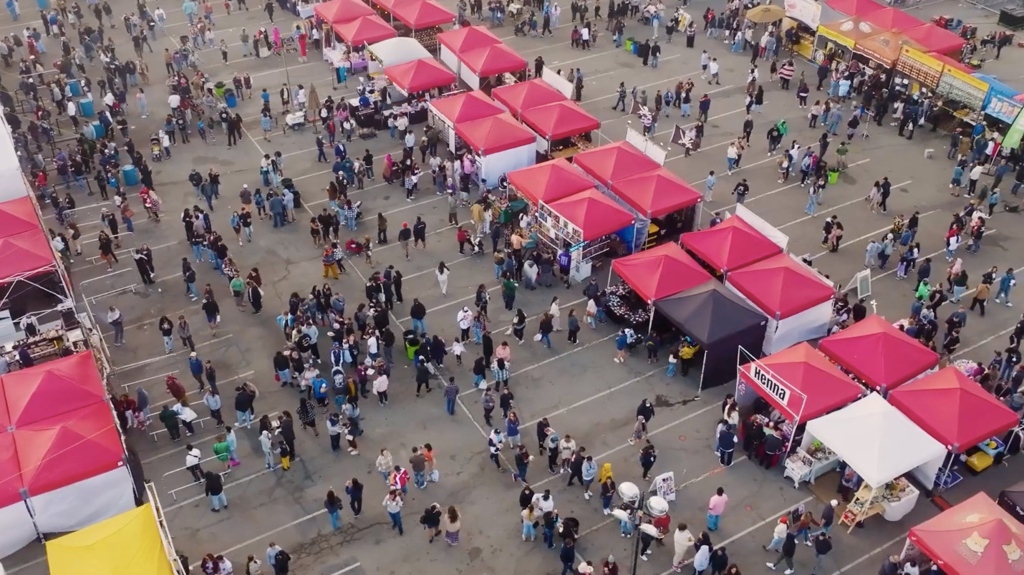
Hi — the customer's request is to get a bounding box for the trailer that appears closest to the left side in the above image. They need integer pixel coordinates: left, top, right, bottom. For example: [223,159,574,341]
[266,34,314,134]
